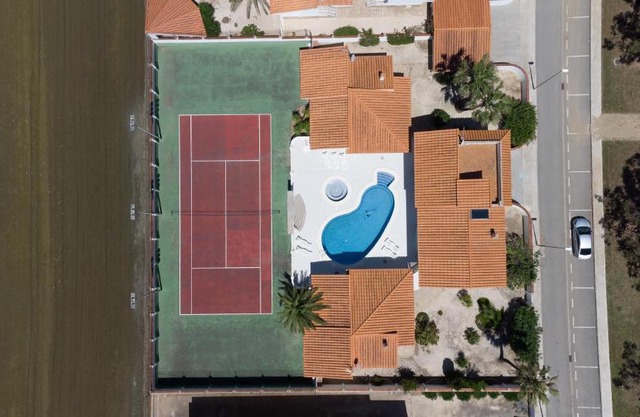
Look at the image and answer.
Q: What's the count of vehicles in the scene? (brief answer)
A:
1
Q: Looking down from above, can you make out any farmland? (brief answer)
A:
Yes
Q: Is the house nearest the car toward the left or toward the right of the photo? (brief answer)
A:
right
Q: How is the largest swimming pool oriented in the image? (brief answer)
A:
diagonally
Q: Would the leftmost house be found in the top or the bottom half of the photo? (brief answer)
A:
top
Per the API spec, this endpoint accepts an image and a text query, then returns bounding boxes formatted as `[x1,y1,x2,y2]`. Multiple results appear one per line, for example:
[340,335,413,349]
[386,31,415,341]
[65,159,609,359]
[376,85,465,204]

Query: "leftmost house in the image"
[147,0,208,42]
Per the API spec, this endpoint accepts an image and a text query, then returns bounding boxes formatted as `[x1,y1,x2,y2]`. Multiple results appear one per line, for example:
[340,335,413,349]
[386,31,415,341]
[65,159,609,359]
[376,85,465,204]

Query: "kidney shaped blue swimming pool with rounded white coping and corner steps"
[318,168,399,268]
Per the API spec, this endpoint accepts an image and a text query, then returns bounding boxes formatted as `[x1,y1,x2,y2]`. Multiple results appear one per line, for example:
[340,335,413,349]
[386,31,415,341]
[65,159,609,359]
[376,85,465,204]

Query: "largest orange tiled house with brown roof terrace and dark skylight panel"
[409,129,512,288]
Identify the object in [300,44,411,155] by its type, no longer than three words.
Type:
house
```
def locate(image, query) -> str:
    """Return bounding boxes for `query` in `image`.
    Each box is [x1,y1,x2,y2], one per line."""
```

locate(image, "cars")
[571,218,594,258]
